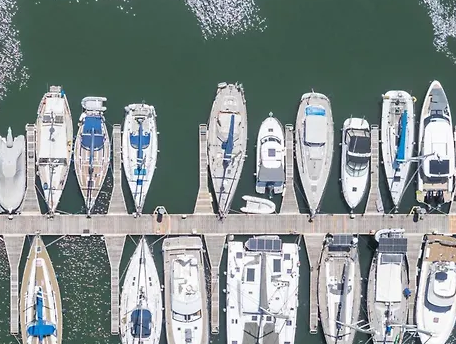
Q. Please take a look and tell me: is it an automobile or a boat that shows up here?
boat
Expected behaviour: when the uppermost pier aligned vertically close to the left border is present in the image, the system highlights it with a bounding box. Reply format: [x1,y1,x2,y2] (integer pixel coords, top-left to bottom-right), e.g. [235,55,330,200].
[21,124,40,214]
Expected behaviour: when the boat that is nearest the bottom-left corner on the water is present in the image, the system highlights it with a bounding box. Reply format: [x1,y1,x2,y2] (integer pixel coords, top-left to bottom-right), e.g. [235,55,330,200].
[15,232,66,344]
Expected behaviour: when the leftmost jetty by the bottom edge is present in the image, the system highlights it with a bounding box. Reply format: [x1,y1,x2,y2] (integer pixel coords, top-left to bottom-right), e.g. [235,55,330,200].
[3,234,26,336]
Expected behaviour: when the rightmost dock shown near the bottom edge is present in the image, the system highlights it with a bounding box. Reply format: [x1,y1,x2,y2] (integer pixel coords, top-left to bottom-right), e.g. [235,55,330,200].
[403,234,425,336]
